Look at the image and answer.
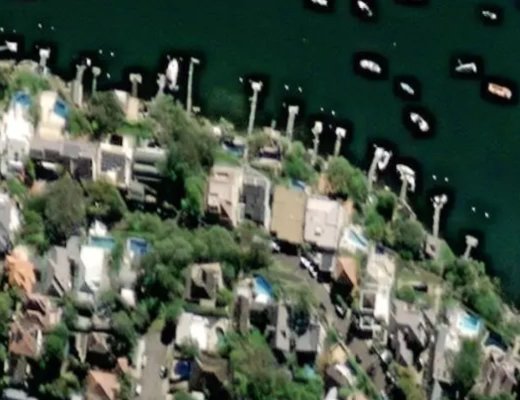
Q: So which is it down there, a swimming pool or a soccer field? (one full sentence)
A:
The one in the frame is a swimming pool.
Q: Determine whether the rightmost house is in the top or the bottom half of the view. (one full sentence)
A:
You can find the rightmost house in the bottom half.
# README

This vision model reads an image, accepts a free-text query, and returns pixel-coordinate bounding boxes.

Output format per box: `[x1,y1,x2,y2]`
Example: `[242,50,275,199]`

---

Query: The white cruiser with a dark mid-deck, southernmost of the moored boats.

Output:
[410,113,430,134]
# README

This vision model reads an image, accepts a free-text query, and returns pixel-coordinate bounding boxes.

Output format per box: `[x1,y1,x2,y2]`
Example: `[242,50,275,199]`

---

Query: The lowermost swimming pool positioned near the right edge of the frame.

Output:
[485,331,508,350]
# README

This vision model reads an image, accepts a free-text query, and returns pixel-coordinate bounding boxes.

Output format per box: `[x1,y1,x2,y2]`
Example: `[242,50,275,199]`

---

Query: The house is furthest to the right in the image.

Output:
[473,345,520,396]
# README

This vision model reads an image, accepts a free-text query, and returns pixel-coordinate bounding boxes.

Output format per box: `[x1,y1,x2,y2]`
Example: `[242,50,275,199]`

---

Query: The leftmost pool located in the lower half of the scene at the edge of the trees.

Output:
[90,236,115,248]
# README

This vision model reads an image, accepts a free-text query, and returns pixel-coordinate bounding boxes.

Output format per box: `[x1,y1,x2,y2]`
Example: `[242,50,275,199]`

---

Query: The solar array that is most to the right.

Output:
[101,152,125,173]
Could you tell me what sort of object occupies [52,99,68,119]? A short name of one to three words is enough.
swimming pool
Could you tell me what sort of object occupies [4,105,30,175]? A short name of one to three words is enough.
house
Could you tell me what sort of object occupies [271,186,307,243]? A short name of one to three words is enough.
building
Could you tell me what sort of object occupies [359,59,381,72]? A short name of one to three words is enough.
boat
